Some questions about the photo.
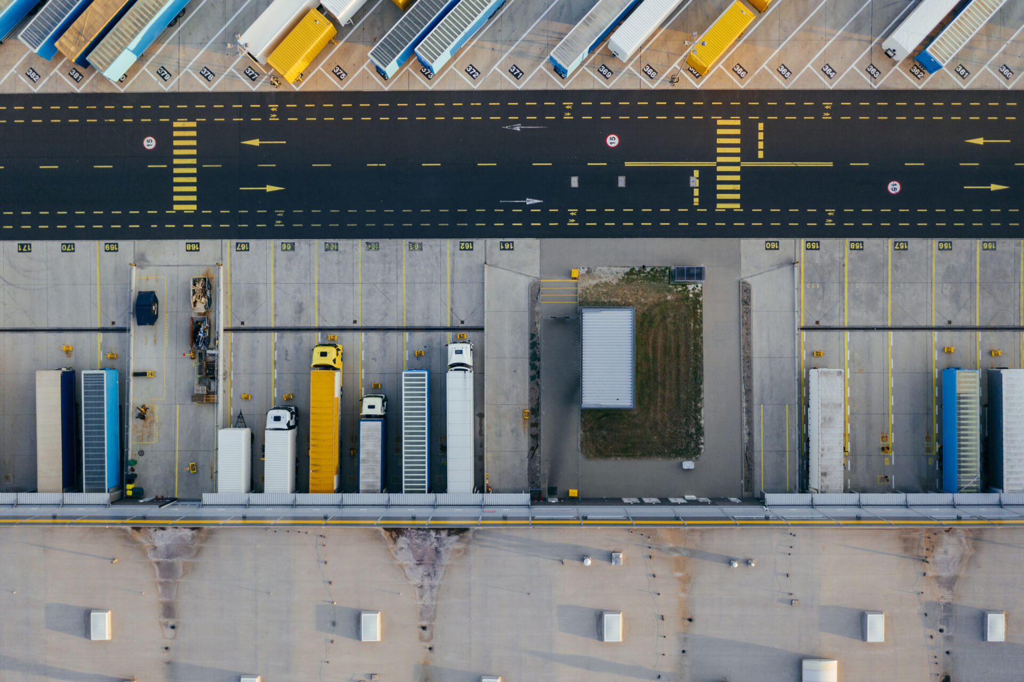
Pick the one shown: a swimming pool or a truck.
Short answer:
truck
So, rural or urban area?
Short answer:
urban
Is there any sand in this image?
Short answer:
No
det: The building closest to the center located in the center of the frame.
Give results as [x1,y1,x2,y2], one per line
[579,307,635,409]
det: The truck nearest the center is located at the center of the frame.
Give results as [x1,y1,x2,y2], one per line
[445,341,475,371]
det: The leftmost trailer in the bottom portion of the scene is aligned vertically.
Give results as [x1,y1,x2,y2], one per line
[36,367,81,494]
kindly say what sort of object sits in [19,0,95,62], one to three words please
trailer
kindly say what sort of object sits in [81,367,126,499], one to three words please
trailer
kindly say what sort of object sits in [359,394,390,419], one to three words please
truck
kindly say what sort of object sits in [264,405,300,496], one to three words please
truck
